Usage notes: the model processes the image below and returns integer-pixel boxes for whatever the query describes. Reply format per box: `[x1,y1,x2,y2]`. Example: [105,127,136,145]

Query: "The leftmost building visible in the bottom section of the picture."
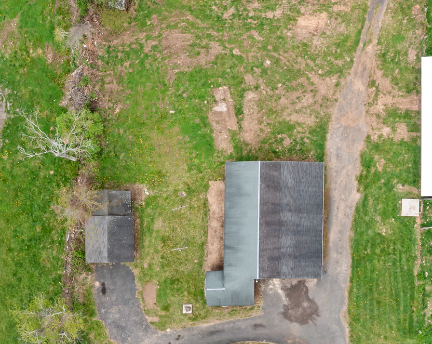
[85,190,135,263]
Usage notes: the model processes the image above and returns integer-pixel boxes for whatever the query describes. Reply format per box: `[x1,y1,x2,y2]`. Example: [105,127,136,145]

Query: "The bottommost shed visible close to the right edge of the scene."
[399,200,421,216]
